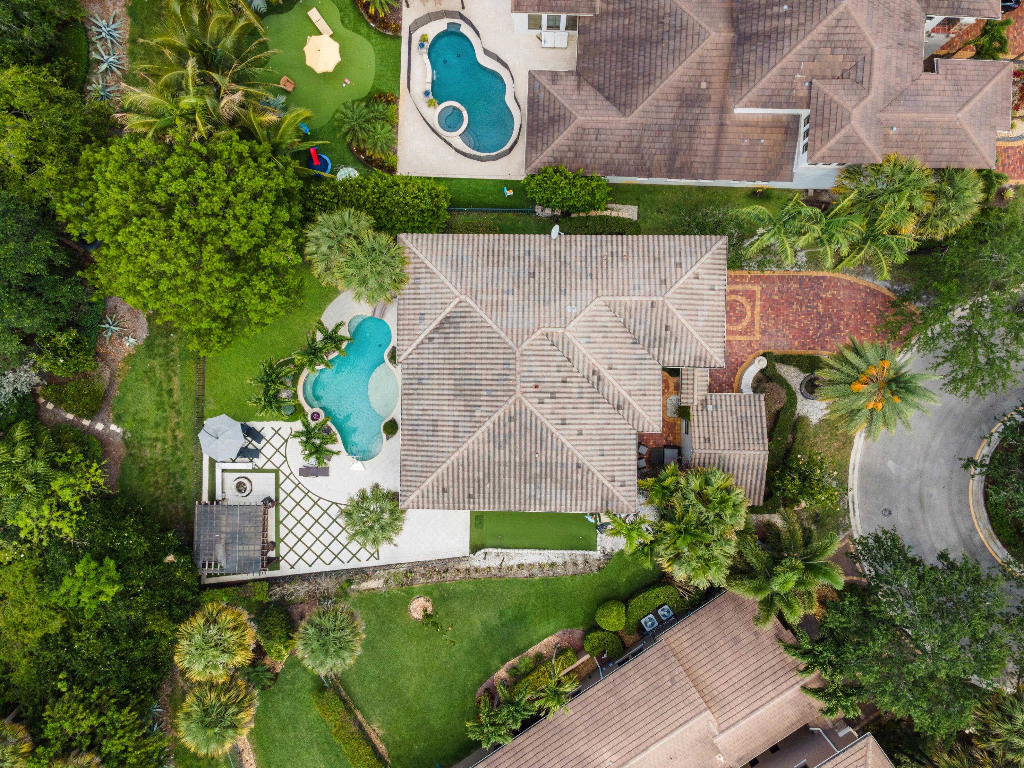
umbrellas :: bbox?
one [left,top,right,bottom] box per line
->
[338,166,360,189]
[305,37,344,75]
[197,412,247,461]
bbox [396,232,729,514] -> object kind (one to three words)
house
